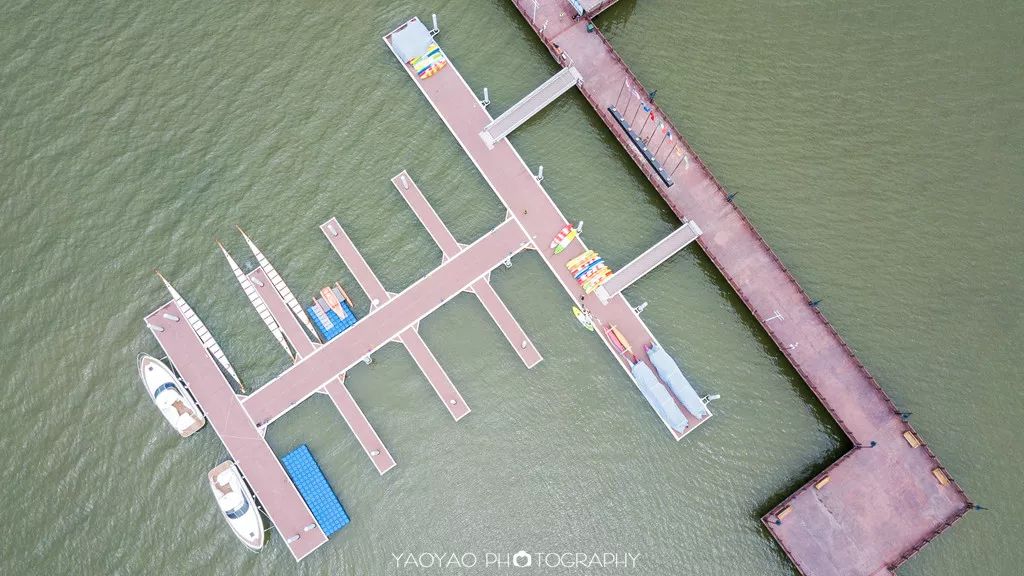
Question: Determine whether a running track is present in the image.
No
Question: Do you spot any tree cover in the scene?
No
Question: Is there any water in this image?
Yes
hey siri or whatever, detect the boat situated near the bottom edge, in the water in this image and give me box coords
[209,459,263,554]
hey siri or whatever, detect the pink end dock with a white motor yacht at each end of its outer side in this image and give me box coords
[145,301,329,561]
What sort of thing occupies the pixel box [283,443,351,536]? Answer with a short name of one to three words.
pier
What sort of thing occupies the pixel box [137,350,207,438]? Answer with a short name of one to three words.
boat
